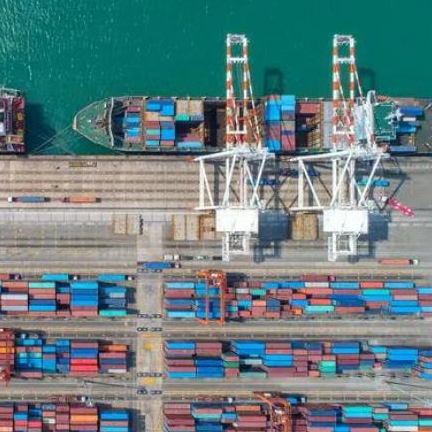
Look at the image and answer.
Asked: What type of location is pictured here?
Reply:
port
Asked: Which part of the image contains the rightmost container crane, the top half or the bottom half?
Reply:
top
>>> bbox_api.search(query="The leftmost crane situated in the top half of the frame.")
[186,33,265,263]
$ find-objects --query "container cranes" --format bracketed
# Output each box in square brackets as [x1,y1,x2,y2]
[0,326,19,391]
[186,33,265,263]
[279,33,378,263]
[189,263,225,328]
[249,385,289,432]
